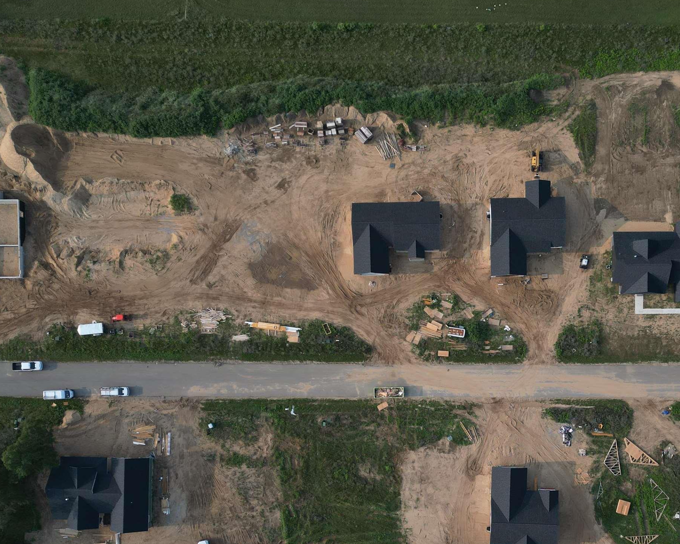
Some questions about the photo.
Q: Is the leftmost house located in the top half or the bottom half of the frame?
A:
bottom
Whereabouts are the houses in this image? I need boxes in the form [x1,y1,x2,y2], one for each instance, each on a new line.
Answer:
[484,467,562,544]
[44,457,153,536]
[349,202,444,274]
[484,176,567,276]
[605,219,680,301]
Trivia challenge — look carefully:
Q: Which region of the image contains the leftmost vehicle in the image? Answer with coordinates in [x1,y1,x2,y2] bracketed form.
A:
[12,359,44,373]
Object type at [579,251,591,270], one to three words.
vehicle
